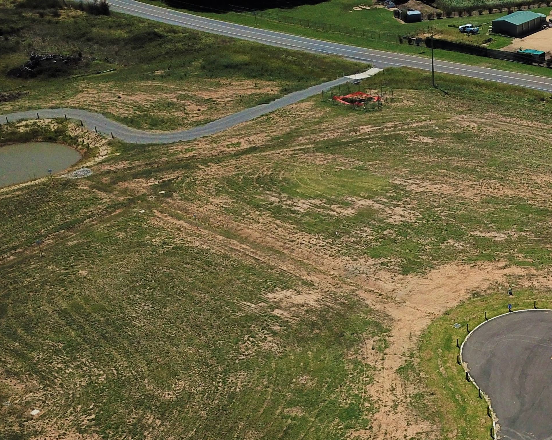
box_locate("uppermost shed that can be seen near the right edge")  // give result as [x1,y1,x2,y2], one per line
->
[491,9,542,38]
